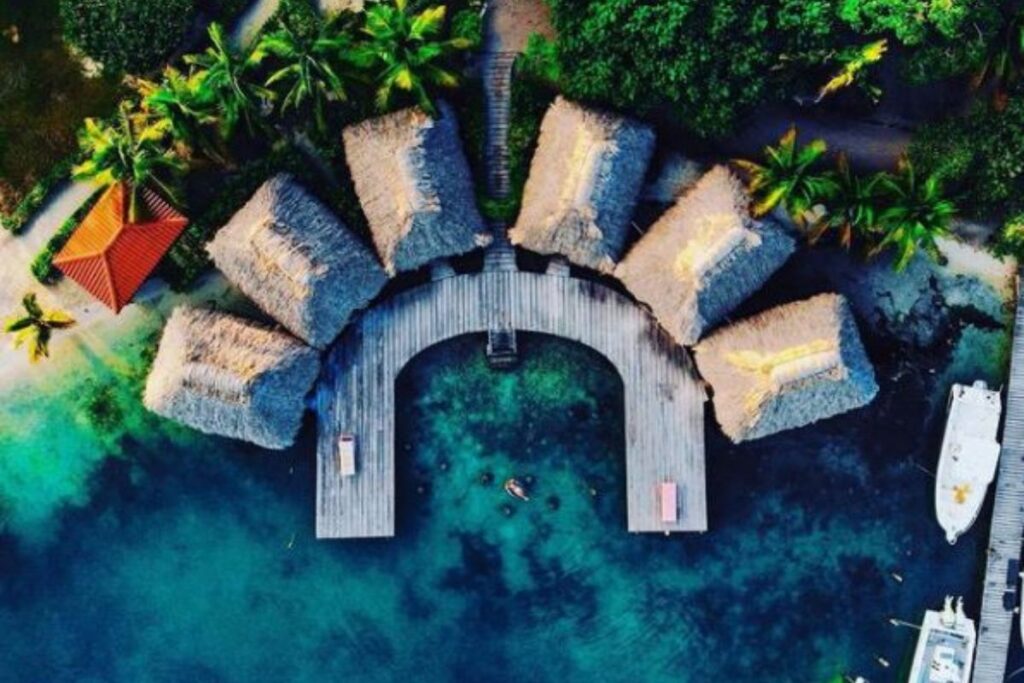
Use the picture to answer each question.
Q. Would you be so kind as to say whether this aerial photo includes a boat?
Yes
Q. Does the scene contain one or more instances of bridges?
Yes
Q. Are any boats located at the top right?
No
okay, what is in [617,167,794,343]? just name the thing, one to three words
shed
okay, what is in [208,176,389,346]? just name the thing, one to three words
shed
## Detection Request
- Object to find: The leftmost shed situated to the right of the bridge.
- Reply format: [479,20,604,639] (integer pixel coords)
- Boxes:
[509,97,657,275]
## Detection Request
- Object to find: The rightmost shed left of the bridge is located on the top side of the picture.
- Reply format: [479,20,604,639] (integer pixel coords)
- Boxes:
[343,100,492,276]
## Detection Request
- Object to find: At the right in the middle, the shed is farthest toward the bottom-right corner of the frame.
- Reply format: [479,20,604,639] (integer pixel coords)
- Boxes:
[695,293,878,442]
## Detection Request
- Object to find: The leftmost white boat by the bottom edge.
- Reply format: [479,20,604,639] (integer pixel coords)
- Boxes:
[904,594,973,683]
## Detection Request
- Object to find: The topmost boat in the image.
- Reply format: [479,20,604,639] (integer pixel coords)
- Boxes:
[933,380,1006,546]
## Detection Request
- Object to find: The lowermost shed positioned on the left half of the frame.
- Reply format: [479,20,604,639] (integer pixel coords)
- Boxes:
[145,307,320,449]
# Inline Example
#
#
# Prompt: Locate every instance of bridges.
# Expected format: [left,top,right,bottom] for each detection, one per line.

[482,216,518,271]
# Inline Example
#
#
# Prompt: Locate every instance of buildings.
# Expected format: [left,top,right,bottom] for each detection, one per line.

[51,183,189,313]
[343,100,492,276]
[145,307,320,449]
[617,167,794,343]
[695,293,878,442]
[509,97,657,275]
[208,176,389,346]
